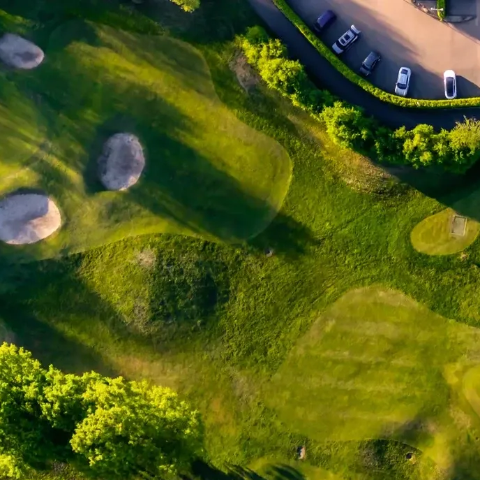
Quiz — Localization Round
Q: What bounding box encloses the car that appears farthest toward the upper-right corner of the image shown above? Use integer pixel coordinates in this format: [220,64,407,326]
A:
[444,71,457,100]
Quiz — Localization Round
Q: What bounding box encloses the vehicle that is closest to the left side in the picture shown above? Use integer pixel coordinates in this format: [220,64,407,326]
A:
[313,8,337,35]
